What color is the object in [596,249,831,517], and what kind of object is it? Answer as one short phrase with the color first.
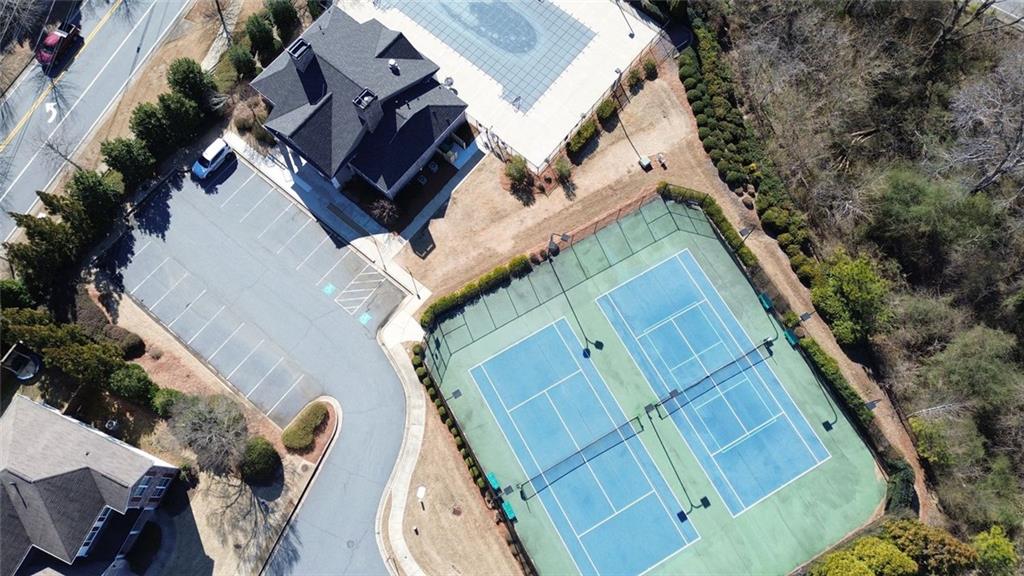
blue tennis court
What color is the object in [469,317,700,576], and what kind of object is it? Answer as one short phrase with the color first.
blue tennis court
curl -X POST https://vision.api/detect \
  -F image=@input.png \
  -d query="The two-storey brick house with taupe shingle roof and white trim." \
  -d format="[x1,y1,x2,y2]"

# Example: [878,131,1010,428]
[0,393,175,576]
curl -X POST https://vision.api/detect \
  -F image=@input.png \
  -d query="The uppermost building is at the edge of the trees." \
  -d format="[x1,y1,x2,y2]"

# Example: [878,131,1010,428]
[250,3,468,199]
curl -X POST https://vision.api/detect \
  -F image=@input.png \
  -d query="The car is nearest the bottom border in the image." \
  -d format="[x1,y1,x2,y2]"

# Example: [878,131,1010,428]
[191,138,231,174]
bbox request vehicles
[191,138,231,174]
[33,13,80,58]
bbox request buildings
[0,393,175,576]
[250,3,468,199]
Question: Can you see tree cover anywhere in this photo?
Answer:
Yes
